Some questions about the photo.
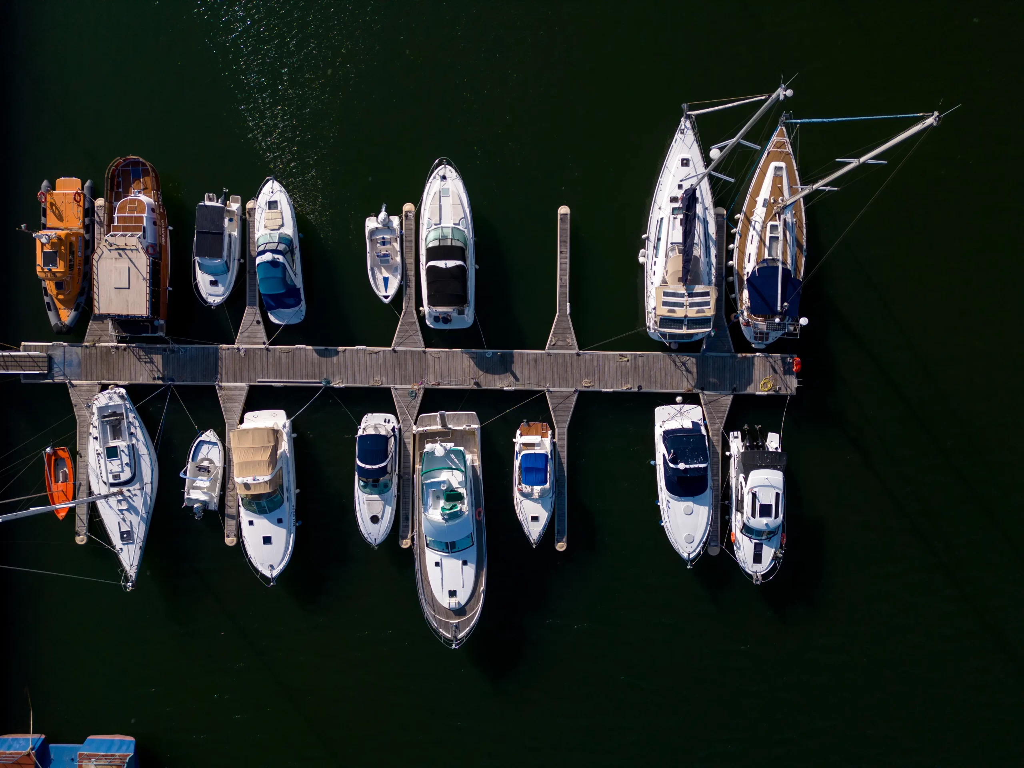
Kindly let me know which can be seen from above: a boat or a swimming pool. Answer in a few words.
boat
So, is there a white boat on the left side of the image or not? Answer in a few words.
Yes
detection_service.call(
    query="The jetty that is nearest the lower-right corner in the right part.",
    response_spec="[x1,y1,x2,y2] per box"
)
[698,392,734,555]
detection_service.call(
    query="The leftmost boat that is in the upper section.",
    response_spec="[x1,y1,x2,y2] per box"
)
[18,177,95,334]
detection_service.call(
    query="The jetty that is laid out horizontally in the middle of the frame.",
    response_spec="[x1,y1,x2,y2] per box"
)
[22,342,803,395]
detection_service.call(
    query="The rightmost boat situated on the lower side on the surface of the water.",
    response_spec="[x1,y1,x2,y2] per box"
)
[726,426,787,584]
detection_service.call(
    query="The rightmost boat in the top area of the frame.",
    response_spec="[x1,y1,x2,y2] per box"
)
[733,99,962,348]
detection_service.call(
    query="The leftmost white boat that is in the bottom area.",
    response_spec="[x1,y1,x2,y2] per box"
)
[0,388,158,592]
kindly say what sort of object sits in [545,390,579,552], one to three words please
pier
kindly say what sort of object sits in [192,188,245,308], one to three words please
boat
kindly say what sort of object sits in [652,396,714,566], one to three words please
boat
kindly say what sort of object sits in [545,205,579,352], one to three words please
pier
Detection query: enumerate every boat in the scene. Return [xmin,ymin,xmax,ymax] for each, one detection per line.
[420,157,475,329]
[255,177,310,325]
[0,388,158,592]
[415,410,486,648]
[733,99,962,348]
[230,410,298,586]
[179,429,225,520]
[644,73,798,348]
[18,177,95,334]
[366,205,402,303]
[91,153,172,341]
[514,419,555,547]
[355,413,400,549]
[192,188,245,308]
[0,439,77,521]
[726,426,787,584]
[652,396,714,566]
